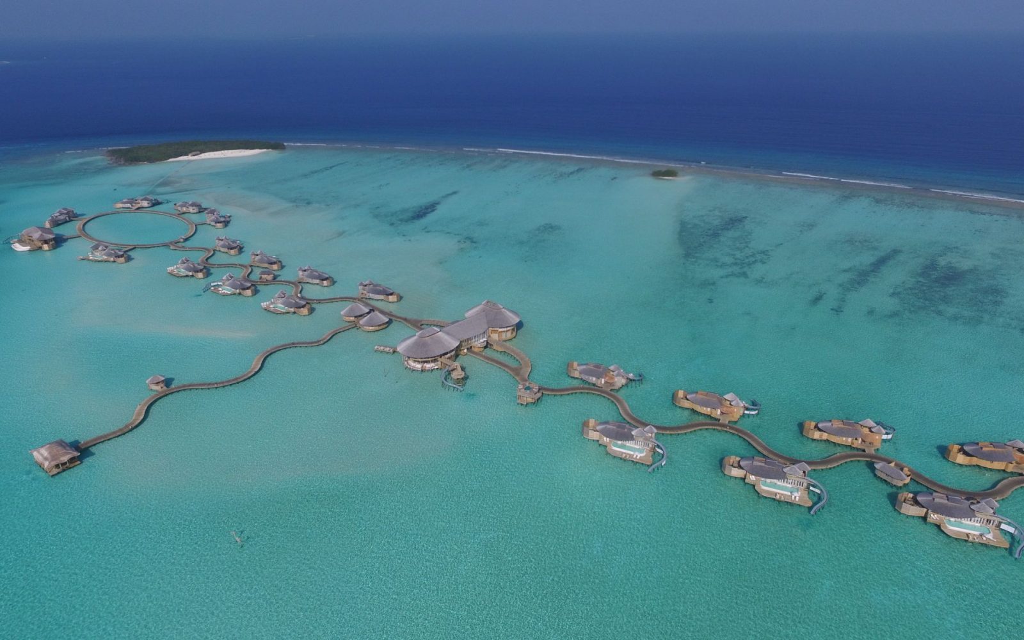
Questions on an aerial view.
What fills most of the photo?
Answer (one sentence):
Most of the picture is covered by water.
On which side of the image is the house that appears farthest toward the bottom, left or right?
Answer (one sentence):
The house that appears farthest toward the bottom appears in the right half of the scene.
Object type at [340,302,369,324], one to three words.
building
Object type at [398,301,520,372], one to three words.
building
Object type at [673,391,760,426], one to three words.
house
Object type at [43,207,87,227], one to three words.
house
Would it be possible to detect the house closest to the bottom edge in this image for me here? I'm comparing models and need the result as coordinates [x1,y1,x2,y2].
[894,494,1024,561]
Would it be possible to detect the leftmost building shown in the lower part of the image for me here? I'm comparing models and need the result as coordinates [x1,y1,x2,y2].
[30,438,82,477]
